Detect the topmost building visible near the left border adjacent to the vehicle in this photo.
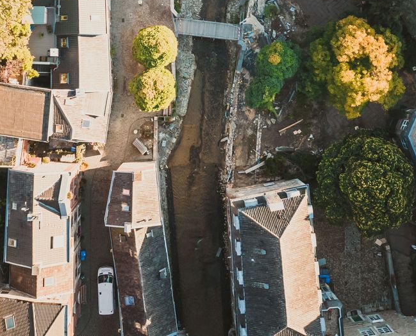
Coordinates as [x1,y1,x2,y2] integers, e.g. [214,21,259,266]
[4,162,79,269]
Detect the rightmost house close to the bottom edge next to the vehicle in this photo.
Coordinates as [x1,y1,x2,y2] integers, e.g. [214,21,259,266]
[109,225,179,336]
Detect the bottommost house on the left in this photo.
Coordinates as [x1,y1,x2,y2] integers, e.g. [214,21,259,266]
[0,286,70,336]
